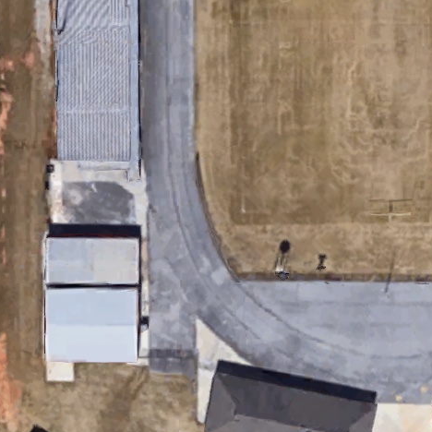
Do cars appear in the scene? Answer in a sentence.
No, this view has no car in it.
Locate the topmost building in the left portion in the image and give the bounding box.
[45,233,140,284]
